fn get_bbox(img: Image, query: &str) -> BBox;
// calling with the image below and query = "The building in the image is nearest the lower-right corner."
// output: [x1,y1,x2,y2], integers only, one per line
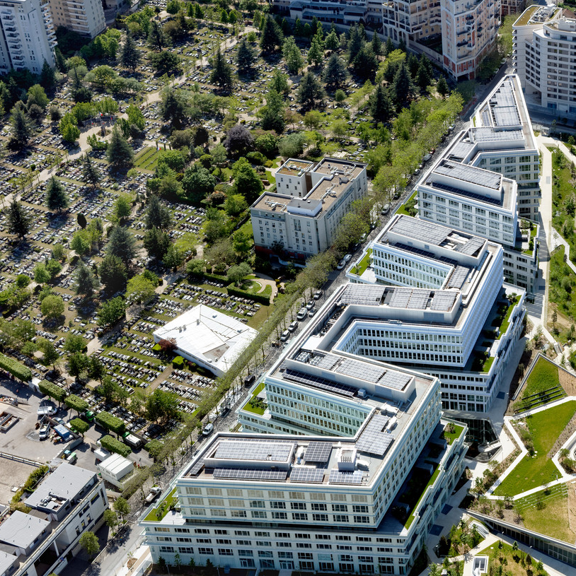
[460,479,576,567]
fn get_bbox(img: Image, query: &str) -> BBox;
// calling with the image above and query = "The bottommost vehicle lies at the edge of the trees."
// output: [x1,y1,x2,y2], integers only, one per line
[144,484,161,503]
